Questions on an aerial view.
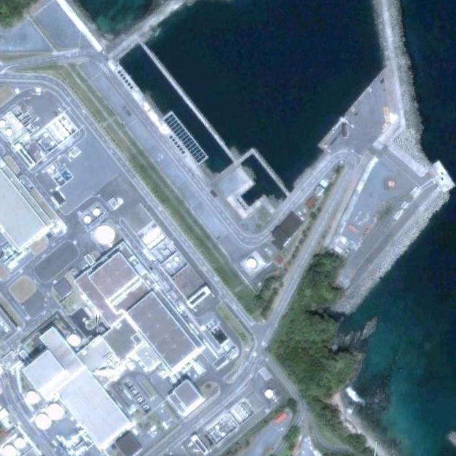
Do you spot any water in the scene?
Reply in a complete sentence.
Yes, there's water in this view.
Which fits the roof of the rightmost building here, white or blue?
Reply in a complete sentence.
In this view, the roof of the rightmost building is white.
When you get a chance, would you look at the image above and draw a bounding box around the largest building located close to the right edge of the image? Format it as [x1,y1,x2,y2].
[432,162,455,194]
